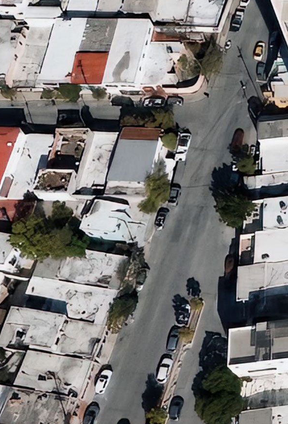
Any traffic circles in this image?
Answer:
No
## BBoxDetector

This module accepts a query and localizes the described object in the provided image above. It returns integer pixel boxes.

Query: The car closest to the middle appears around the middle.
[155,205,171,230]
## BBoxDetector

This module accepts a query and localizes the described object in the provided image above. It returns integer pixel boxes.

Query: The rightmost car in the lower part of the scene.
[223,253,236,276]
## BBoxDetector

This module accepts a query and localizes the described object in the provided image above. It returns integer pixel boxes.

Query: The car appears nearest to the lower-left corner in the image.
[82,401,101,424]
